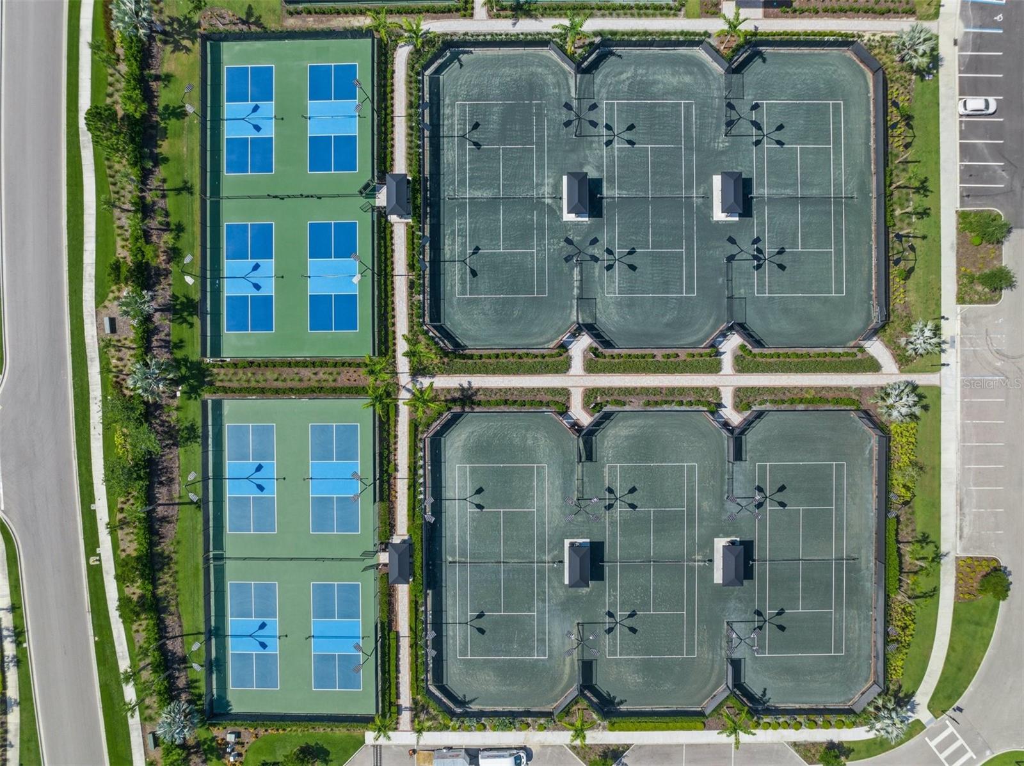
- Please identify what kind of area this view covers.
sports ground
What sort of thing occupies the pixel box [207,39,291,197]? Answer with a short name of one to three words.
sports court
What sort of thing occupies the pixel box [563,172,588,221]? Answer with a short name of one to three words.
building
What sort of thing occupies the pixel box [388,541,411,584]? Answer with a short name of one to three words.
building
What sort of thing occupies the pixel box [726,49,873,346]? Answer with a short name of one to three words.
tennis court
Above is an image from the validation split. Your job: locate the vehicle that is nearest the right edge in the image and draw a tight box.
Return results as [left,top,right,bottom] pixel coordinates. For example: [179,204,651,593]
[959,97,998,116]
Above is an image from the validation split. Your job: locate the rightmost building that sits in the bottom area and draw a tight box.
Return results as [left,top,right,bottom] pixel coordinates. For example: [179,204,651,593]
[714,538,743,586]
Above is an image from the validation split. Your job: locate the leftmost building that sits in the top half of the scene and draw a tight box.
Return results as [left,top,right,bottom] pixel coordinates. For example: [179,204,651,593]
[386,174,408,217]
